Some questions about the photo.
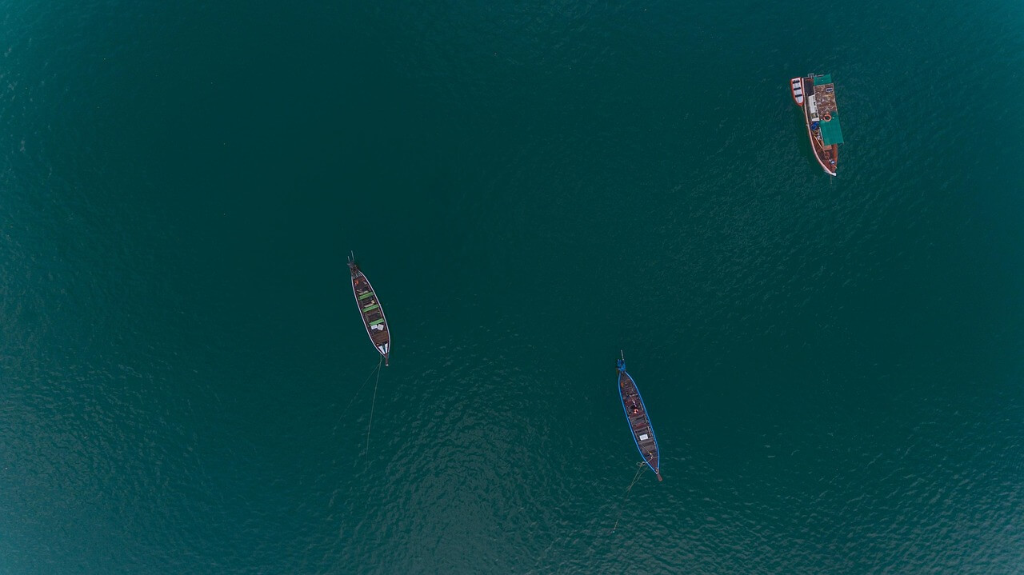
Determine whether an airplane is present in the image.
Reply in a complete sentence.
No, there isn't any airplane down there.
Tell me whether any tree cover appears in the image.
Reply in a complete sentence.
No, the scene doesn't show any tree cover.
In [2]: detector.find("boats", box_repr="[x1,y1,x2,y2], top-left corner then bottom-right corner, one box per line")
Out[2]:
[347,253,390,369]
[615,349,662,482]
[790,77,804,107]
[801,73,844,177]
